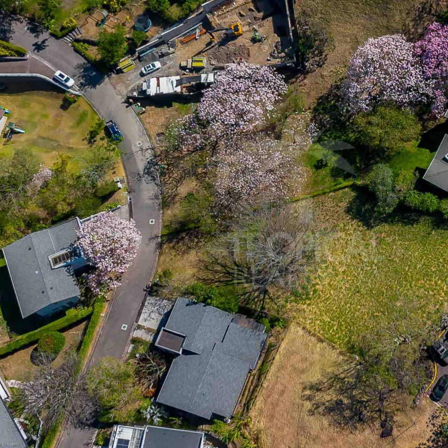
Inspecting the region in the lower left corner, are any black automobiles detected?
No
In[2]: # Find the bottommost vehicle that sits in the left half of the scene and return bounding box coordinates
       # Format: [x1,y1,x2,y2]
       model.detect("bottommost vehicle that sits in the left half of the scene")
[105,118,123,144]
